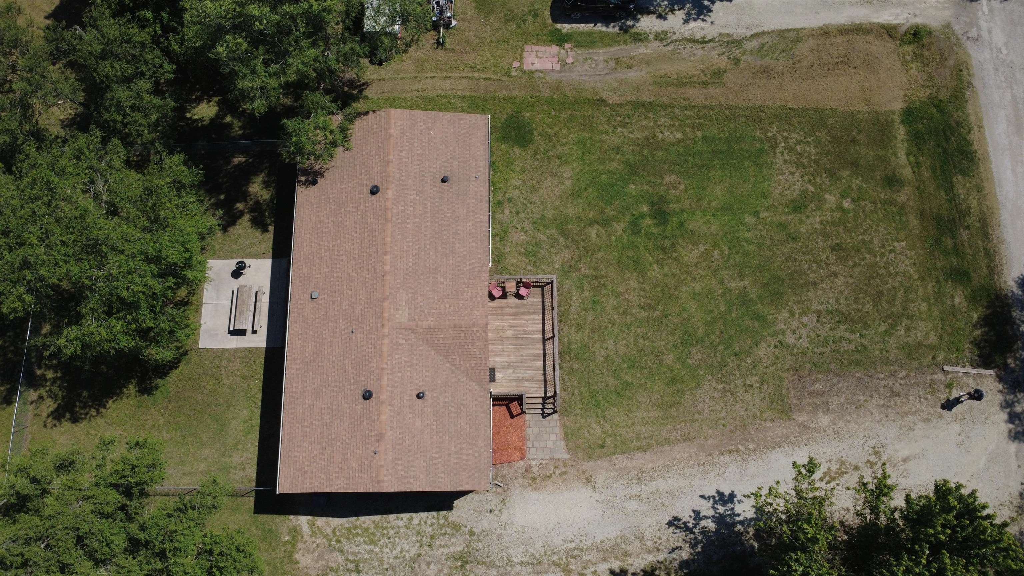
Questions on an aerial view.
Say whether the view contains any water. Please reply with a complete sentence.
No, water can't be seen anywhere here.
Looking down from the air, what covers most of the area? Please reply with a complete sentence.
The scene is dominated by grass.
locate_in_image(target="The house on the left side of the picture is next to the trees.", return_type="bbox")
[277,109,493,494]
